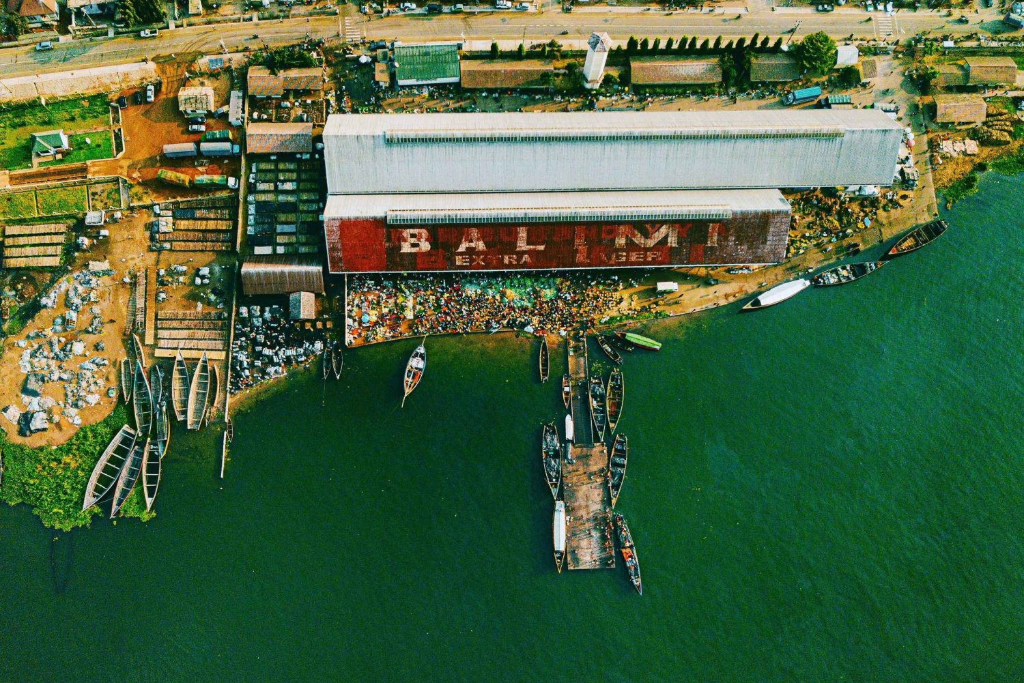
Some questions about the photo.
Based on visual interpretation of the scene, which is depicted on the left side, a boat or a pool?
boat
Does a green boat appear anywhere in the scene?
Yes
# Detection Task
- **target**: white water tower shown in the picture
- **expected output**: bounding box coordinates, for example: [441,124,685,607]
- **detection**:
[582,32,614,92]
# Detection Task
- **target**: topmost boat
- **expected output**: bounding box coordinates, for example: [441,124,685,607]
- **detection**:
[886,219,951,256]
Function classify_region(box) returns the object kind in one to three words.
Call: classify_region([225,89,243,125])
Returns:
vehicle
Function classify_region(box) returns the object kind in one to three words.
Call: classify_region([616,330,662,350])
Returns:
boat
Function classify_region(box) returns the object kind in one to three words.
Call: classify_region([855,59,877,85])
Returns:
building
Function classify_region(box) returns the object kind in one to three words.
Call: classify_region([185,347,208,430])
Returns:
boat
